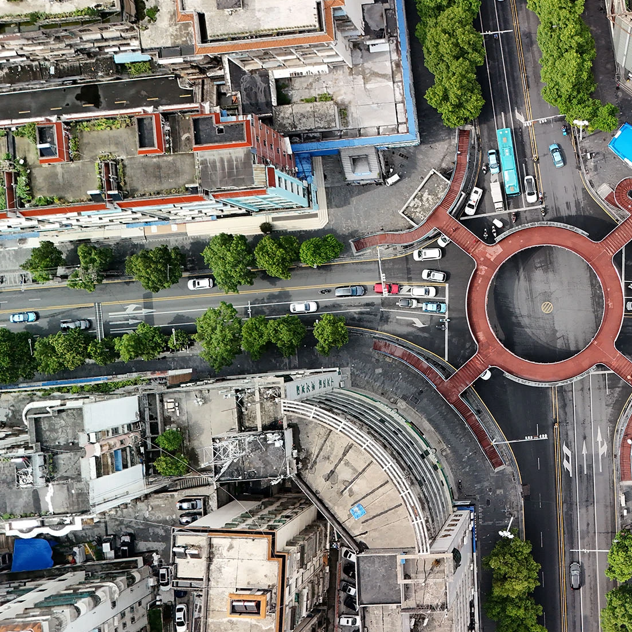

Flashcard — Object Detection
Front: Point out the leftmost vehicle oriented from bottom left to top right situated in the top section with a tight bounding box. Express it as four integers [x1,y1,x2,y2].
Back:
[381,169,404,189]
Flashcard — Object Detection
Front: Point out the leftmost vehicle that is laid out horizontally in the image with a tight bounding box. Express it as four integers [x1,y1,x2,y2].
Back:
[10,312,38,324]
